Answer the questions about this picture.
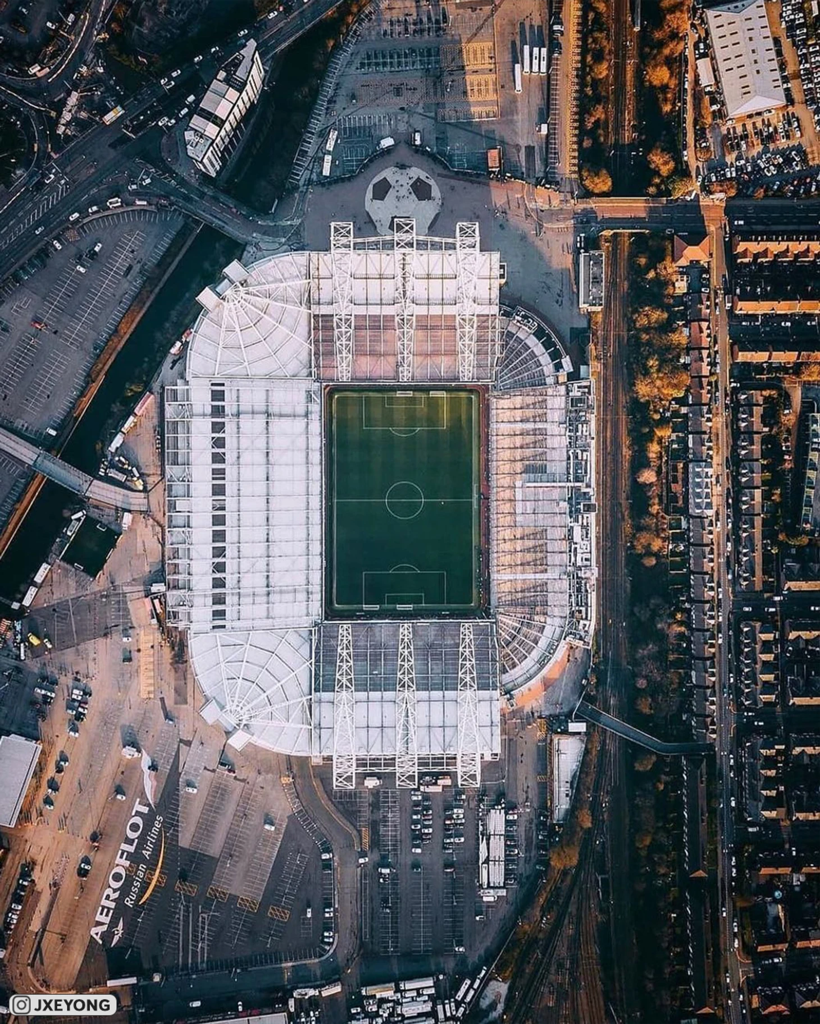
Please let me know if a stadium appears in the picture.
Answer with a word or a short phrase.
Yes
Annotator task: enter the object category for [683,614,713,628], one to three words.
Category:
house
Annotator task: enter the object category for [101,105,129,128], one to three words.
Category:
bus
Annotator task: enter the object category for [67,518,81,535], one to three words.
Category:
vehicle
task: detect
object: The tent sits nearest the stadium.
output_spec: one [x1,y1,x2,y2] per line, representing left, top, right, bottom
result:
[486,807,505,834]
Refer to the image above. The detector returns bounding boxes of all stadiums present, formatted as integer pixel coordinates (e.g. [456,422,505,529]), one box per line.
[165,218,599,789]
